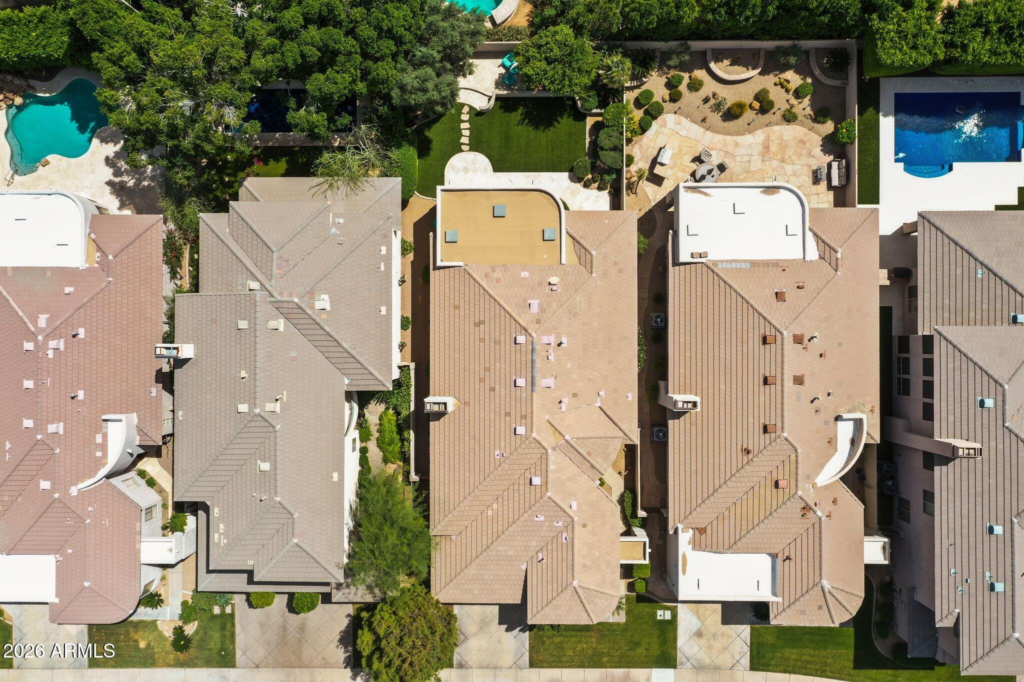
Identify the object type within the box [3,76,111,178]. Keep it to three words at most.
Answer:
swimming pool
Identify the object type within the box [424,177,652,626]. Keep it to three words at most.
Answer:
house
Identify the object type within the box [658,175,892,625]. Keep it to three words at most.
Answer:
house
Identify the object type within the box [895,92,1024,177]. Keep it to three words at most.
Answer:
swimming pool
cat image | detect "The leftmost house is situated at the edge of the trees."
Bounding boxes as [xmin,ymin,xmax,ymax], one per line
[0,191,184,627]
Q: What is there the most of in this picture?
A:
buildings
